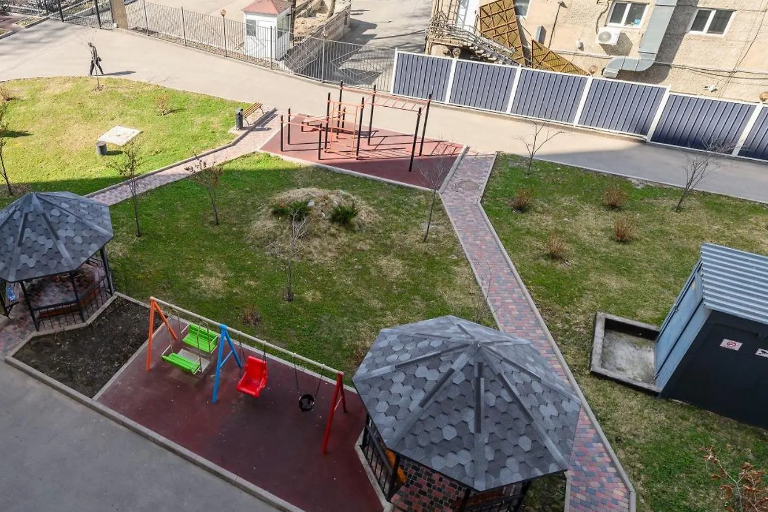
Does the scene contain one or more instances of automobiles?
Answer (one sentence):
No, the frame has no automobile in it.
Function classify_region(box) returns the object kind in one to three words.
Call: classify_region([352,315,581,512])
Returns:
gazebo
